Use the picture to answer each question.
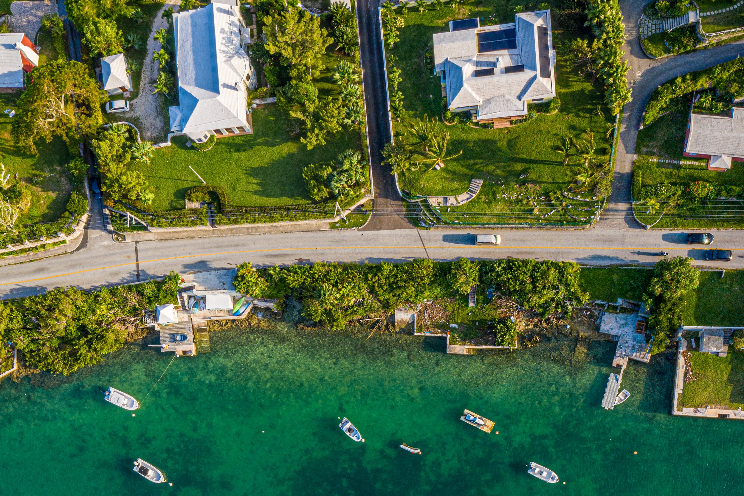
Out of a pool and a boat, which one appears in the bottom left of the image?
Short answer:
boat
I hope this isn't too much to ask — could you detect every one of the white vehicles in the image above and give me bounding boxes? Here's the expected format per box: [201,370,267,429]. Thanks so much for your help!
[475,232,501,247]
[107,101,129,114]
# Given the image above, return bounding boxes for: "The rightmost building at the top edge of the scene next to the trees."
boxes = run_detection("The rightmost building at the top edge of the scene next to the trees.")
[434,10,556,130]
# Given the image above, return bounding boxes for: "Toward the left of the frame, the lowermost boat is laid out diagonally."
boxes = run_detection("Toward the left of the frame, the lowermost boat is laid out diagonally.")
[132,458,166,483]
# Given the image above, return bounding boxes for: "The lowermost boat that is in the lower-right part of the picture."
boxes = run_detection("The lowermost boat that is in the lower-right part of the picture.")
[525,462,559,483]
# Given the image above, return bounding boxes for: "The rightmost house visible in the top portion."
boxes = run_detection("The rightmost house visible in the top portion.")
[685,107,744,175]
